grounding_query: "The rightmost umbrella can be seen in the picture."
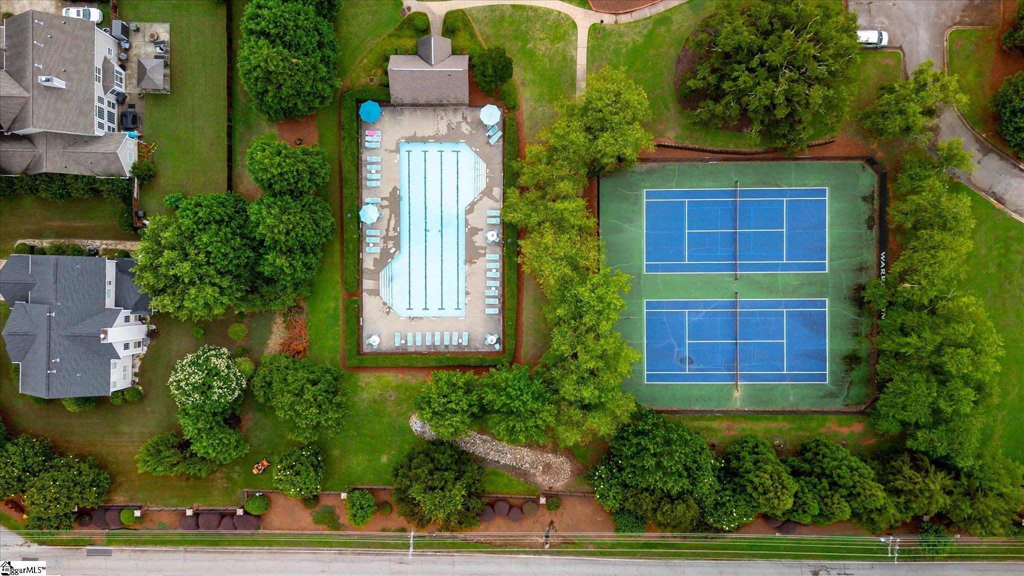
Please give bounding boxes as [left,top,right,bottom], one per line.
[479,105,501,126]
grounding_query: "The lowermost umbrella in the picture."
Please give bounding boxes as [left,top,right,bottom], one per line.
[360,205,380,224]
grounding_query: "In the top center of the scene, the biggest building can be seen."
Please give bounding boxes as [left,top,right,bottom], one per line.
[386,32,469,105]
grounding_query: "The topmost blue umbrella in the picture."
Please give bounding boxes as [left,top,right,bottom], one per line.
[359,101,382,124]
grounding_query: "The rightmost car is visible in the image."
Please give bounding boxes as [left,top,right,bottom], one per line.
[847,29,888,49]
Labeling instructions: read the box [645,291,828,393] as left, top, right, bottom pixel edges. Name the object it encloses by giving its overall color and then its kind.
blue tennis court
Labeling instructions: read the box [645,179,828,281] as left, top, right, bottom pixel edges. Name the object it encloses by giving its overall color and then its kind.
blue tennis court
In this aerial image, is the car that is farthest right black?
No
